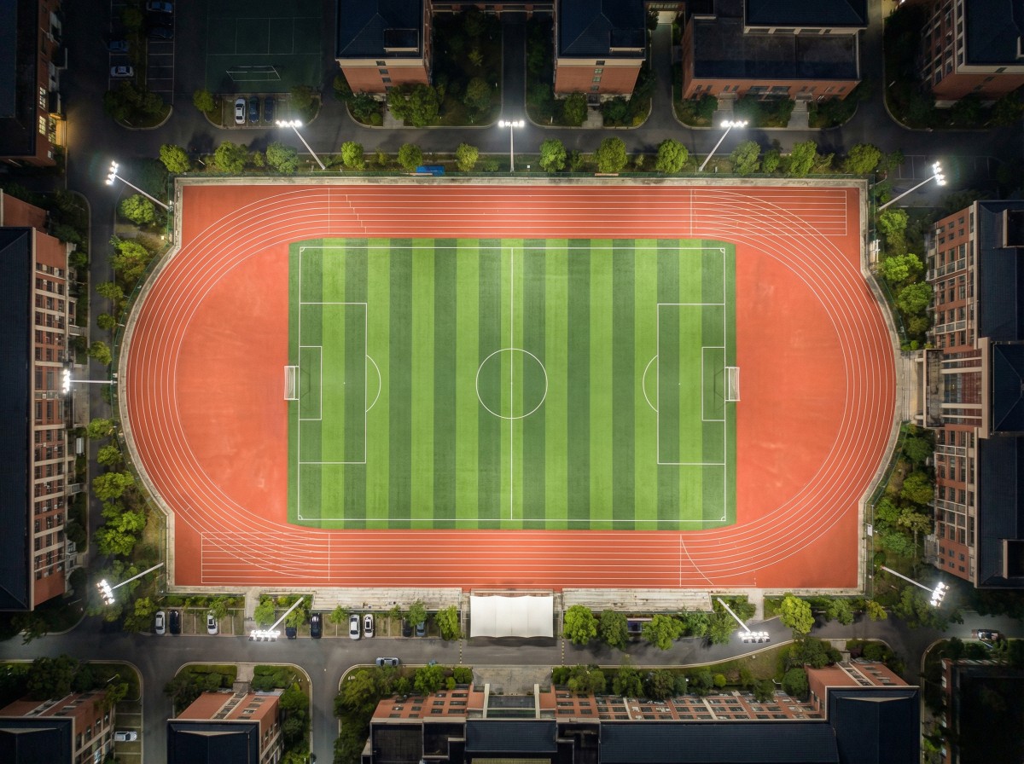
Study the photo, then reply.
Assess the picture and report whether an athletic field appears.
Yes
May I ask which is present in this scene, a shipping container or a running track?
running track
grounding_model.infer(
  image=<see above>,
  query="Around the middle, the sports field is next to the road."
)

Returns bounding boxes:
[287,238,736,530]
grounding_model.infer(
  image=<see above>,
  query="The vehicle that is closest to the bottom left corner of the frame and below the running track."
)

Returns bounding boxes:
[116,730,137,742]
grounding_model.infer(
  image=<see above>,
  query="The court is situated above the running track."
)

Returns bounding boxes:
[205,0,323,92]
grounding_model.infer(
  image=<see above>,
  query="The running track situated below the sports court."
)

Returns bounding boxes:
[126,185,896,588]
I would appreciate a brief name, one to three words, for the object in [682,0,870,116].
building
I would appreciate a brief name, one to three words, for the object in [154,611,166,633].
vehicle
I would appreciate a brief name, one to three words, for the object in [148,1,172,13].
vehicle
